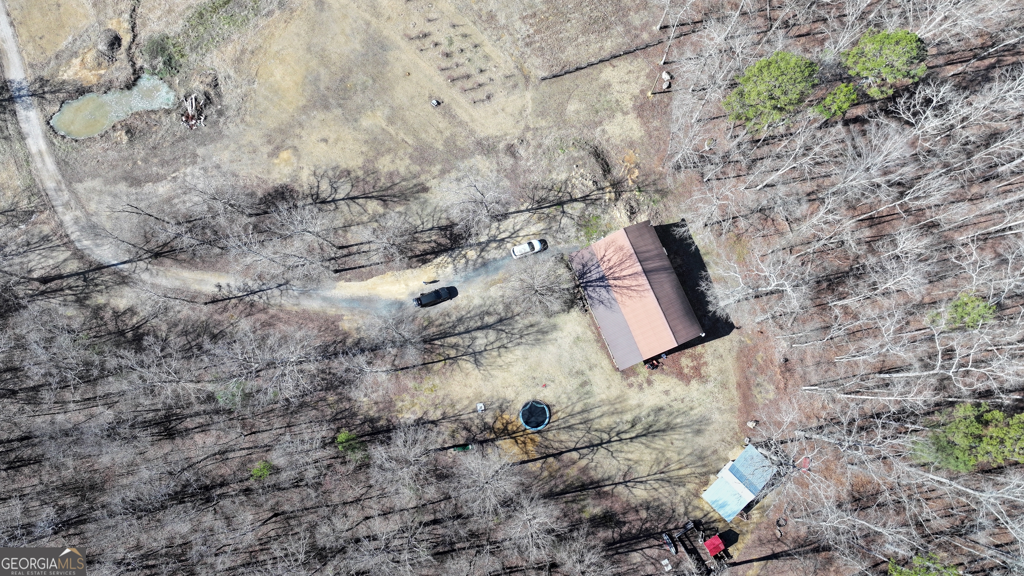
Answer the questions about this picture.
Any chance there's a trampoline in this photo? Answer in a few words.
Yes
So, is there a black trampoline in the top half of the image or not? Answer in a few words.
No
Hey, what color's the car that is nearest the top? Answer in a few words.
white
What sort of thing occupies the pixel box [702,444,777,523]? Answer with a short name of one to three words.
shed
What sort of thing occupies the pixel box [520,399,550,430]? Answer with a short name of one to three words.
trampoline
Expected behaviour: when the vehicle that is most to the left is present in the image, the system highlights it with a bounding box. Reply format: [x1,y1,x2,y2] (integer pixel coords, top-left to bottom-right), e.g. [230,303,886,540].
[410,287,451,309]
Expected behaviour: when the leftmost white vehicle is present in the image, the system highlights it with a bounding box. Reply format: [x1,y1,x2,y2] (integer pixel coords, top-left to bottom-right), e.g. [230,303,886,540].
[509,239,542,259]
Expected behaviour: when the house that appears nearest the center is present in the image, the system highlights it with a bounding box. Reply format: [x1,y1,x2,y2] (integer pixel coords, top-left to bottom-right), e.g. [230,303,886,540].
[568,219,705,370]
